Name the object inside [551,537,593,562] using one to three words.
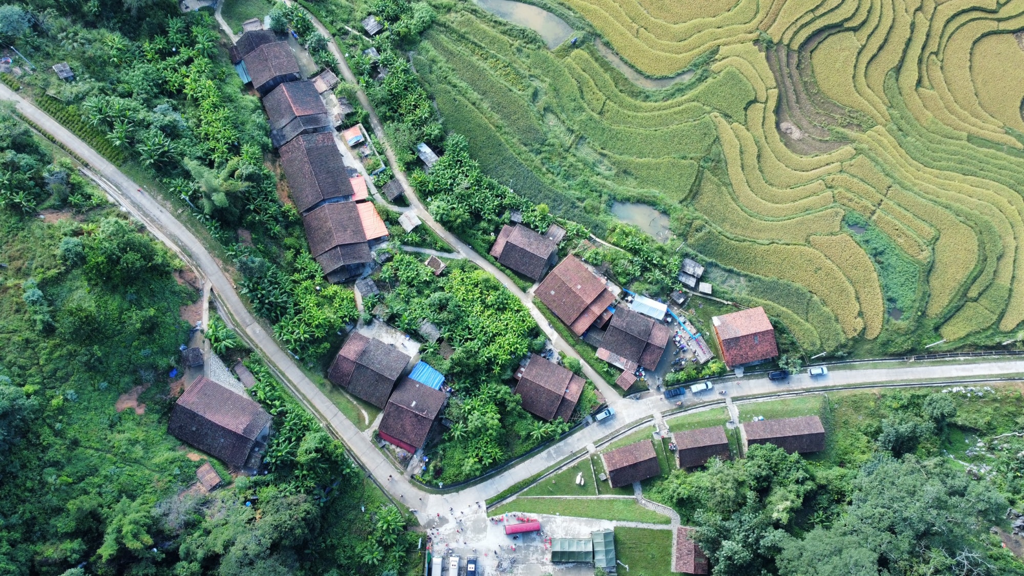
tent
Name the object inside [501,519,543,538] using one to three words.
vehicle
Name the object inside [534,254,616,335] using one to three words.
house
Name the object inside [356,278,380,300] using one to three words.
shed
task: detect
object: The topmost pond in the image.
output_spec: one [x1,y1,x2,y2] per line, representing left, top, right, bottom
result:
[478,0,573,49]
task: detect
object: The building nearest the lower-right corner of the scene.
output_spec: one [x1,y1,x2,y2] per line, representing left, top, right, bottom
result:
[743,414,826,454]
